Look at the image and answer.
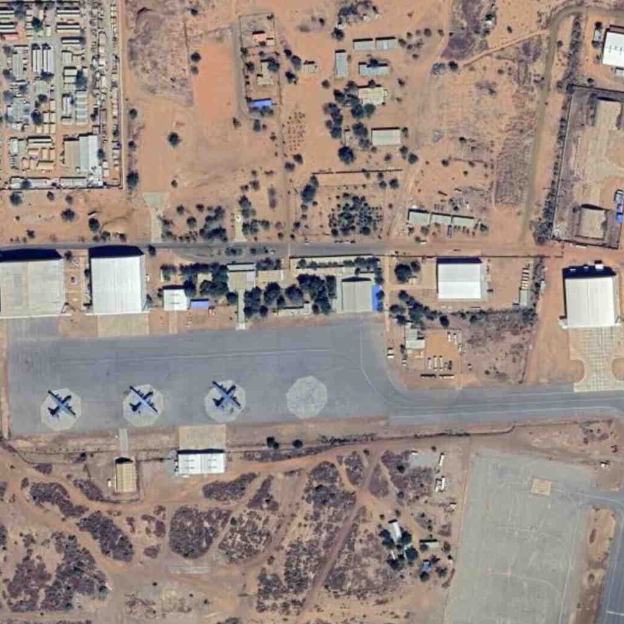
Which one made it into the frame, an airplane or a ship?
airplane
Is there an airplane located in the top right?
No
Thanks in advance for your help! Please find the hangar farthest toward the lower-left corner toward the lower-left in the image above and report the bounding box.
[116,462,137,492]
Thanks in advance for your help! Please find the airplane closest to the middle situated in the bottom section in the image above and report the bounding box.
[214,384,240,410]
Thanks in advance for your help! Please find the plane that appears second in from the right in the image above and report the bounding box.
[131,390,159,416]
